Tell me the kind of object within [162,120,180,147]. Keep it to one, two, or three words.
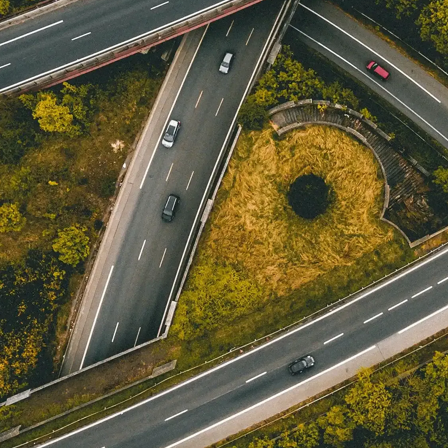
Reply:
car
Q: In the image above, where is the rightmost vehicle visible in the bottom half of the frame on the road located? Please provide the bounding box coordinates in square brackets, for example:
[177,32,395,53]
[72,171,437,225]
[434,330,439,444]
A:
[286,354,316,376]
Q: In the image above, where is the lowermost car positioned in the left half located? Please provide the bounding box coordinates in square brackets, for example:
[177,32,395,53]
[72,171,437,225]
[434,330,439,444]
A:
[161,193,179,222]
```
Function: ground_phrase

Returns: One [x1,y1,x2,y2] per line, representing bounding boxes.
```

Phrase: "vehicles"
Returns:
[161,193,179,222]
[286,354,316,376]
[162,120,180,147]
[366,61,390,80]
[219,51,235,75]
